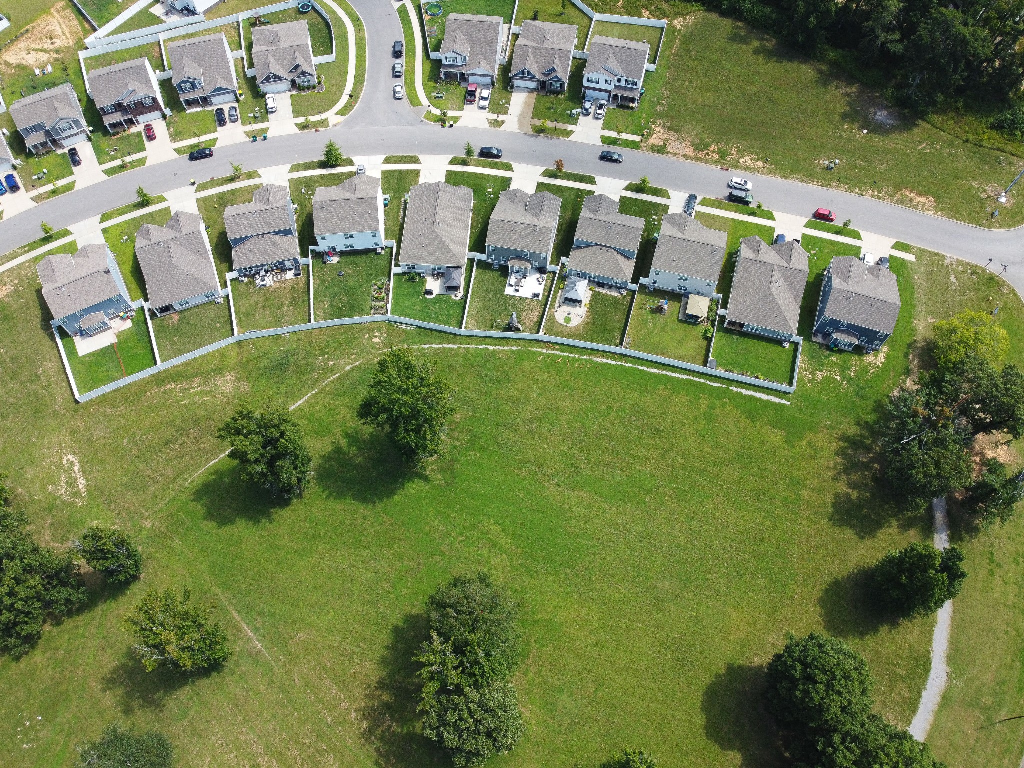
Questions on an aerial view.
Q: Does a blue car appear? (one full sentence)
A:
Yes, you can see a blue car in this photo.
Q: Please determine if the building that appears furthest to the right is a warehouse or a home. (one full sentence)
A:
Looking closely, the building that appears furthest to the right is a home.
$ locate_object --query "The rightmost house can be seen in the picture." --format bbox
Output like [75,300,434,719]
[813,257,901,353]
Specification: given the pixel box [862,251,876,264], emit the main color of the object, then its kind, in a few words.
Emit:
white vehicle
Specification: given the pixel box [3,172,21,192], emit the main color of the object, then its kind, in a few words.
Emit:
blue car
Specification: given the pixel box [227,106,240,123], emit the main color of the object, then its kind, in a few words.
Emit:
gray vehicle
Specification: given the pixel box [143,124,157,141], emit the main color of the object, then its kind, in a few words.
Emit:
red car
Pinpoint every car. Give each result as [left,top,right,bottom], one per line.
[394,83,404,99]
[143,124,157,141]
[265,94,278,112]
[582,98,594,115]
[813,206,838,222]
[862,251,876,264]
[3,172,21,192]
[600,150,625,163]
[478,144,503,158]
[227,106,240,123]
[878,254,892,268]
[67,148,82,166]
[479,90,490,108]
[188,146,214,162]
[684,194,698,214]
[355,162,367,176]
[215,109,228,126]
[595,100,607,118]
[393,40,404,56]
[393,60,403,76]
[729,177,752,191]
[728,187,755,205]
